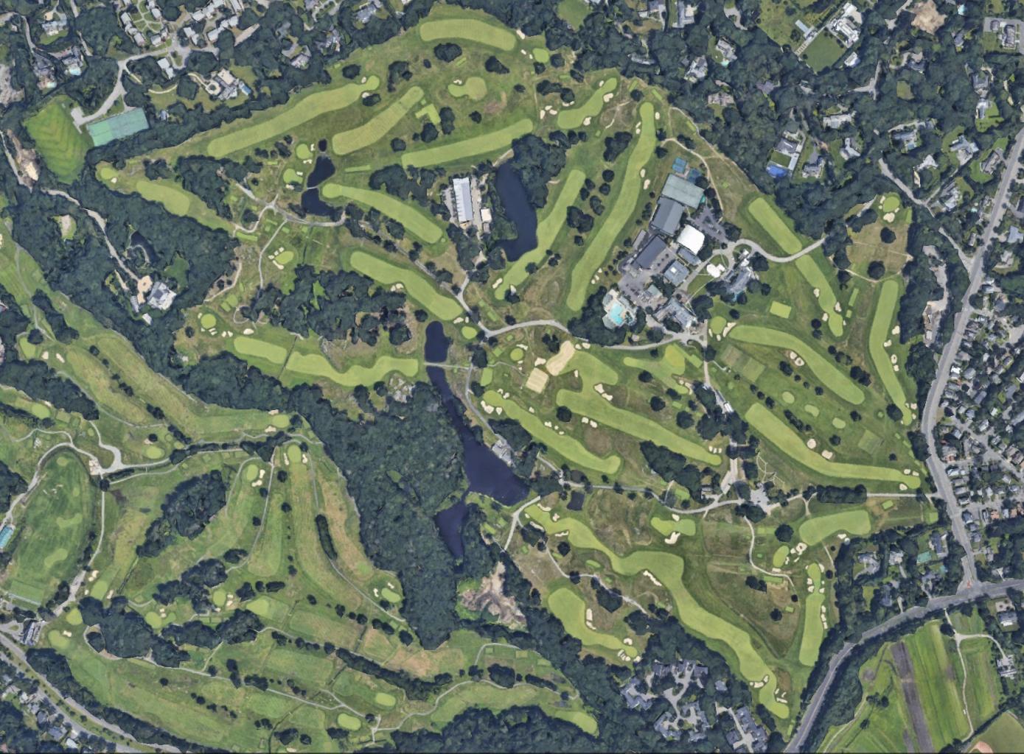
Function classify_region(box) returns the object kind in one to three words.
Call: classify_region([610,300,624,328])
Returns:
swimming pool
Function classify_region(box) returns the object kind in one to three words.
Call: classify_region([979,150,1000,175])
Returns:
house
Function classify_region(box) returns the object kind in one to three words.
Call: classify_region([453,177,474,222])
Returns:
shed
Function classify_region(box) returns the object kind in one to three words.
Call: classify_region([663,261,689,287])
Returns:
building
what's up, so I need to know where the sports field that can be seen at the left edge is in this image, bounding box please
[24,95,93,182]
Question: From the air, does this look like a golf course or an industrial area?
golf course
